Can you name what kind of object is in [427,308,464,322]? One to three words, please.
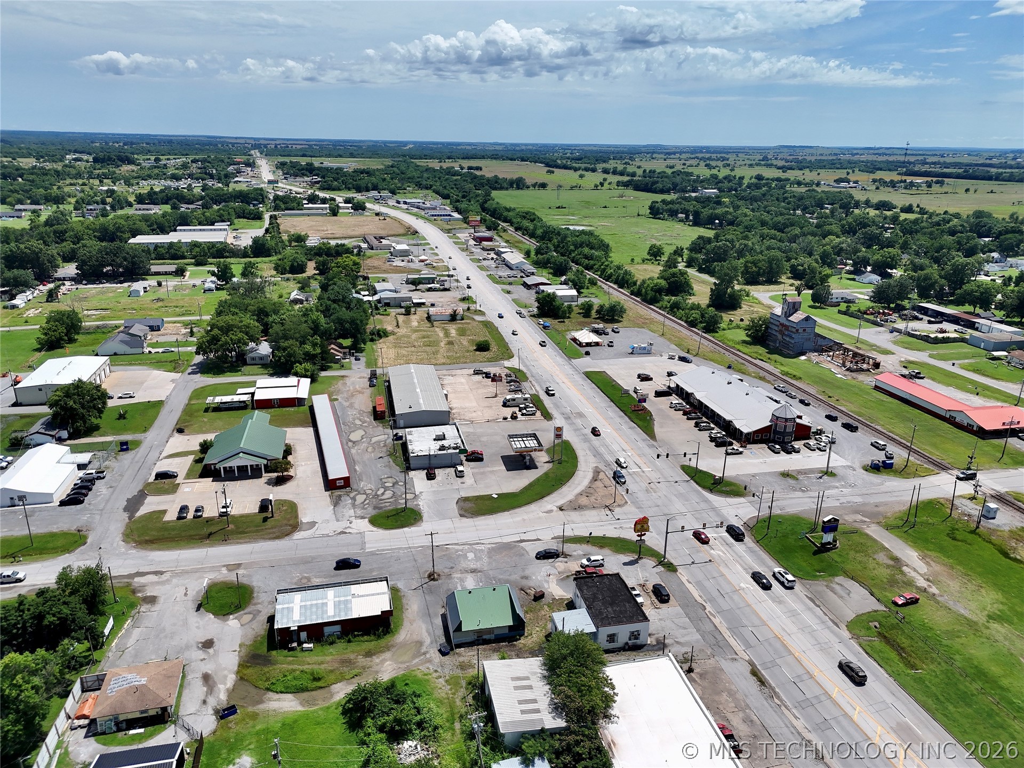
shed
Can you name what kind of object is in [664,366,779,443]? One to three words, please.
building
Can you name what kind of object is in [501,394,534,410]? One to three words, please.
camper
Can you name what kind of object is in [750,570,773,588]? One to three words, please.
car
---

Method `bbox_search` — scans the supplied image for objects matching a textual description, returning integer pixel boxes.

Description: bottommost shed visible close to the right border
[979,503,1005,522]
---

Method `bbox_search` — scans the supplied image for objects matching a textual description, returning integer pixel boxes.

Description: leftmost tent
[574,328,603,347]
